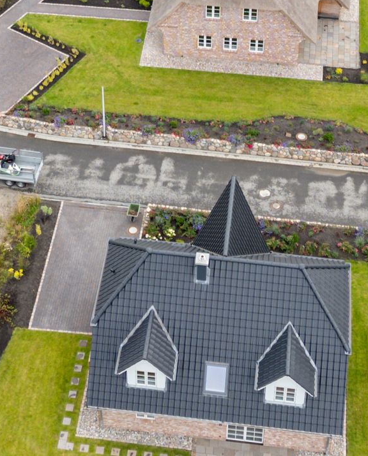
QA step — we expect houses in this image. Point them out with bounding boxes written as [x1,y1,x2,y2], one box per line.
[146,0,349,63]
[85,174,349,456]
